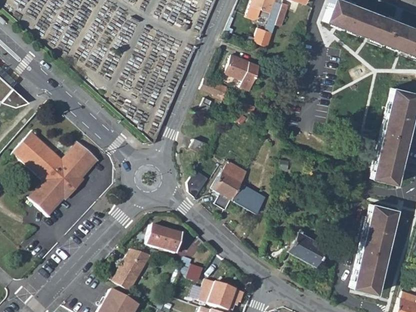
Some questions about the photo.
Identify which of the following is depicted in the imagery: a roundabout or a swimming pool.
roundabout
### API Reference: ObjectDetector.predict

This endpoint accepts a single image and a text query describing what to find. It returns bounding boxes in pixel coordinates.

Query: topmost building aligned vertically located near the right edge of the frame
[369,90,416,188]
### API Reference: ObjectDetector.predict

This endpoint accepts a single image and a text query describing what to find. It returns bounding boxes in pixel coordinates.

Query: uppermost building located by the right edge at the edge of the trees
[322,0,416,62]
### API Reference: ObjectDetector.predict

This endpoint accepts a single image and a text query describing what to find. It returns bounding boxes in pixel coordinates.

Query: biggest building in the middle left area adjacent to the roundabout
[12,132,99,216]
